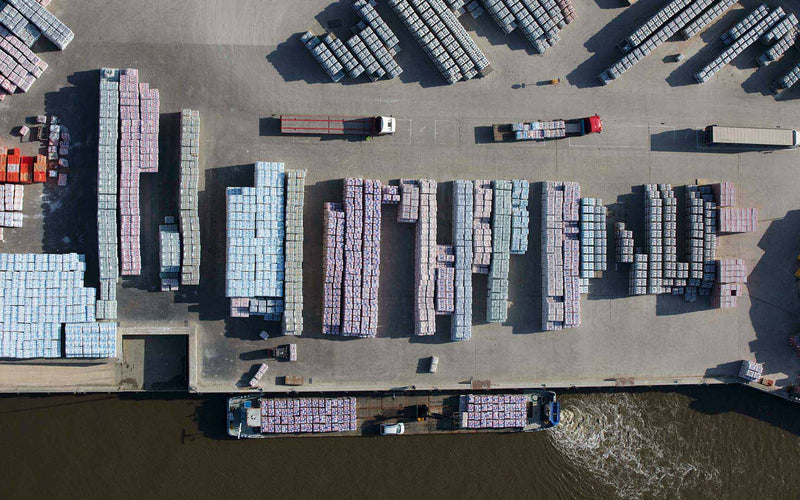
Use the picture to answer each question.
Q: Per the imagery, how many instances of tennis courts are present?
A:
zero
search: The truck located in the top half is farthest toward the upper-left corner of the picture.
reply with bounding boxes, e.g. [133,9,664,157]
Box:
[280,112,394,134]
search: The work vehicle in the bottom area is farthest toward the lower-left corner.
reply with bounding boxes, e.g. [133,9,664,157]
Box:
[265,345,290,359]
